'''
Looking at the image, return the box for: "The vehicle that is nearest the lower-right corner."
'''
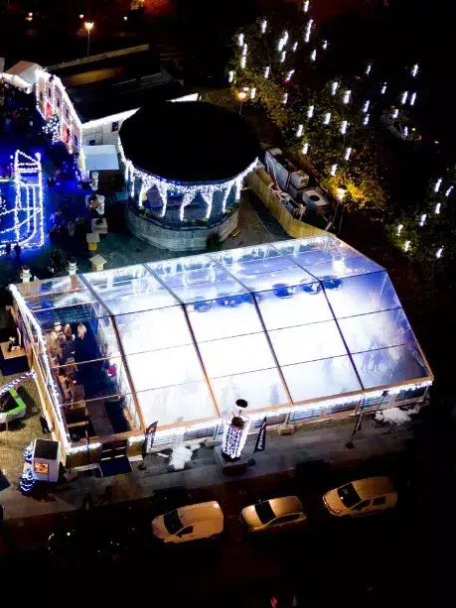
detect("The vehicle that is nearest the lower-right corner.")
[320,476,406,523]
